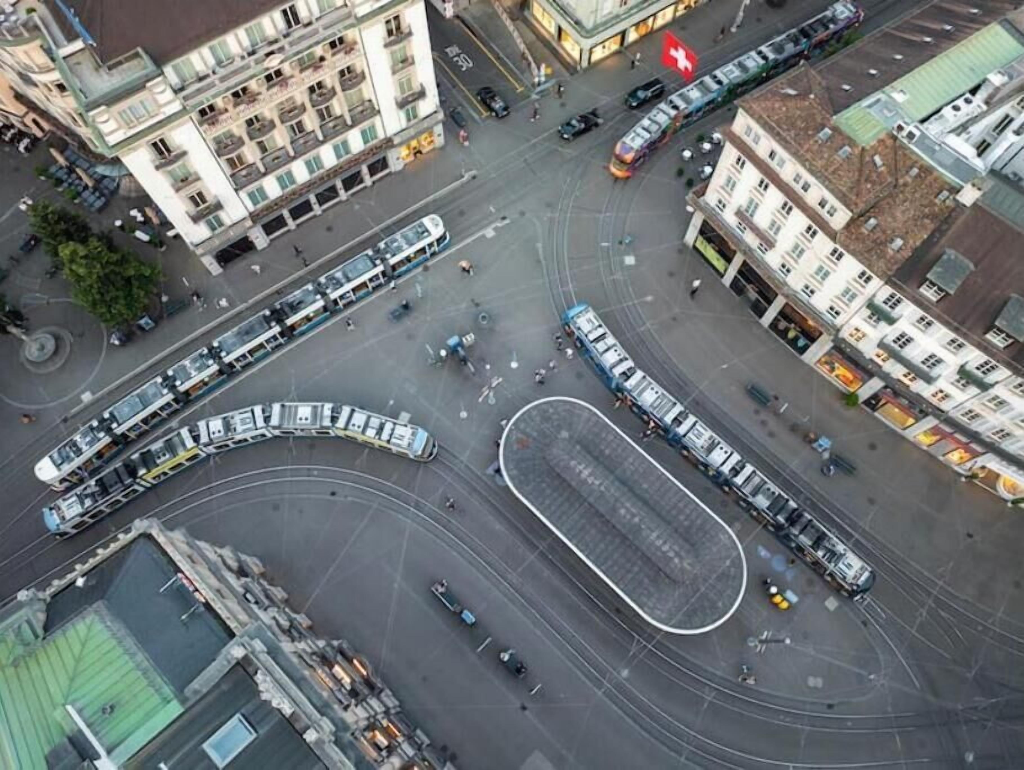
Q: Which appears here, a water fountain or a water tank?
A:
water fountain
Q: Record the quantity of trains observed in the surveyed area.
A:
4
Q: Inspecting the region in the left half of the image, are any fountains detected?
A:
Yes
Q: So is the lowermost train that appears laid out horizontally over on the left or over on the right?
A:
left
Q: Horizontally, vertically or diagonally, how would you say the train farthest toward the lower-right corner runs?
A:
diagonally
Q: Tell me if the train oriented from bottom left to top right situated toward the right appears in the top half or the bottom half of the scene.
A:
top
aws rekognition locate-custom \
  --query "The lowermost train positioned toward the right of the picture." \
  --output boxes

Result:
[560,308,871,590]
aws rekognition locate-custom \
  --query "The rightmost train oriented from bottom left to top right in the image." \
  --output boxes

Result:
[609,4,859,188]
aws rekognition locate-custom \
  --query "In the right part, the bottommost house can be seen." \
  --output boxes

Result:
[910,380,1024,516]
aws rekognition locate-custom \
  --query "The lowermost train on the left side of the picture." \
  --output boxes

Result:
[58,400,441,533]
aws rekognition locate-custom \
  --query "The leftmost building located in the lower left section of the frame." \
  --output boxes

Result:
[0,511,462,770]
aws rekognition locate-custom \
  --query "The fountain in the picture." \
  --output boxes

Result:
[5,324,68,371]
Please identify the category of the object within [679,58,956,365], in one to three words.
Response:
house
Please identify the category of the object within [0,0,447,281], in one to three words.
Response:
building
